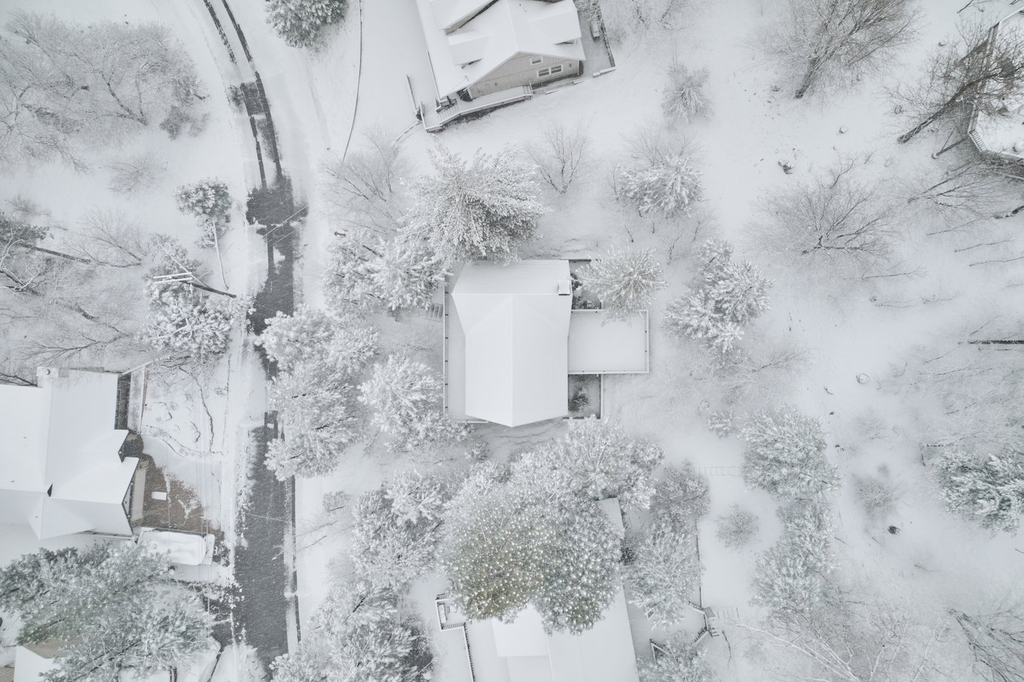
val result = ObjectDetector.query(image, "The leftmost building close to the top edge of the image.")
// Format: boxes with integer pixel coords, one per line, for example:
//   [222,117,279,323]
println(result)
[417,0,585,110]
